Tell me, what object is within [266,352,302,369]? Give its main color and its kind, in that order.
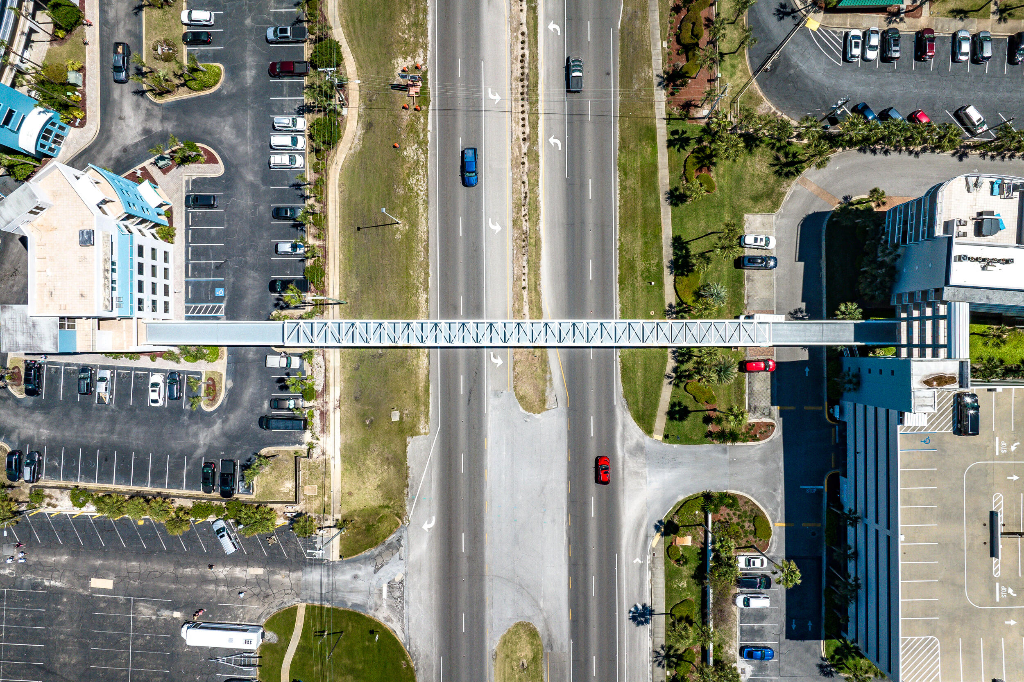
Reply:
white vehicle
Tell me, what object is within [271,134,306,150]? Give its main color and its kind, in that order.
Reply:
white car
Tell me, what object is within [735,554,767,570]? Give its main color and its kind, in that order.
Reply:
white car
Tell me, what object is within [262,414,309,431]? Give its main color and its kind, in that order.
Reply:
black vehicle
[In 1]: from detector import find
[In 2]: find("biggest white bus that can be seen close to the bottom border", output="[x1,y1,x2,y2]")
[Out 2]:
[184,620,264,649]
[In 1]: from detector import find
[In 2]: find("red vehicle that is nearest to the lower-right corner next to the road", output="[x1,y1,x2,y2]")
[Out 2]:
[743,358,775,374]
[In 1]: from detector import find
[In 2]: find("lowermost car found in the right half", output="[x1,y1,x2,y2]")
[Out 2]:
[741,645,773,663]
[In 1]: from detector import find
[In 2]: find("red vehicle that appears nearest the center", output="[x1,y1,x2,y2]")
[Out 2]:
[595,455,611,484]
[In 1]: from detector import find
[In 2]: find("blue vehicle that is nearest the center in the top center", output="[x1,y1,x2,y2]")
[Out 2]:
[462,147,479,187]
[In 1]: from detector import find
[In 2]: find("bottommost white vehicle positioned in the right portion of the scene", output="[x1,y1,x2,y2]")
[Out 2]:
[737,592,770,610]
